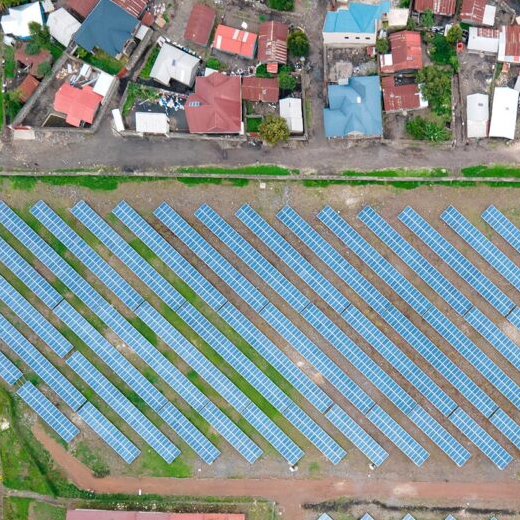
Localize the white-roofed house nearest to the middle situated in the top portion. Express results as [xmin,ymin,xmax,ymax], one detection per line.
[280,100,303,134]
